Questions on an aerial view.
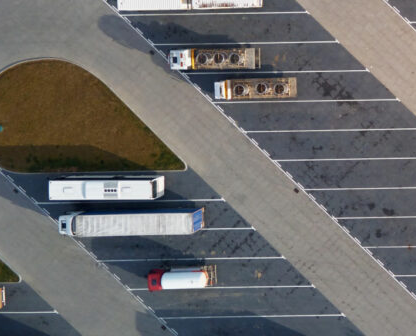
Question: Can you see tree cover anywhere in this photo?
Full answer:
No, there is no tree cover in the image.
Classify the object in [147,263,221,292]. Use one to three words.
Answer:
truck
